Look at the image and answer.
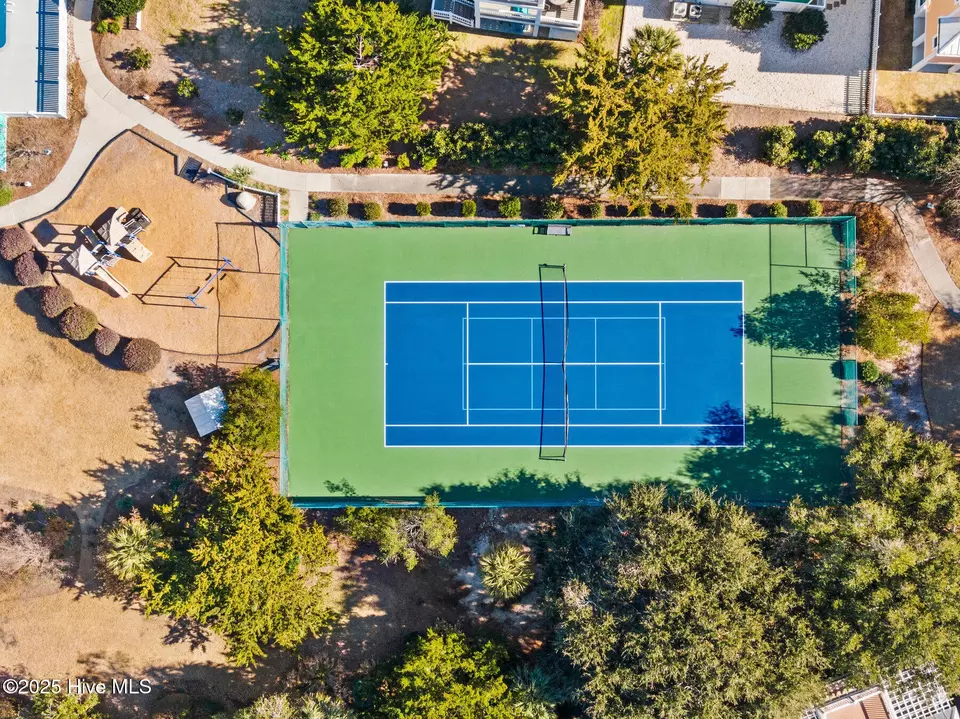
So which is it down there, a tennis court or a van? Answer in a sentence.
The image shows a tennis court.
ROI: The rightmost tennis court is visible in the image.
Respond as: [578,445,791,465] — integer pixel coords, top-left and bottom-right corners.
[289,224,842,501]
